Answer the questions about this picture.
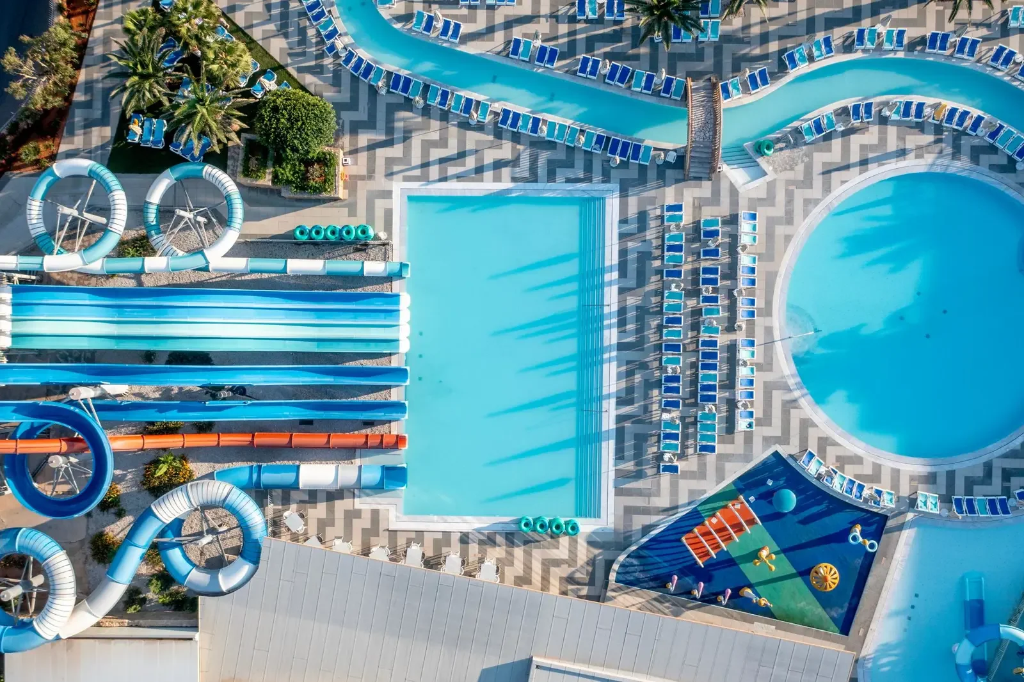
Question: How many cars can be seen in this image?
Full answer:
The picture shows no cars.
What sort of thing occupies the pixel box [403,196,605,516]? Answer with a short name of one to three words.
swimming pool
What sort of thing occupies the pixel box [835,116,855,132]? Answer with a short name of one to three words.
umbrella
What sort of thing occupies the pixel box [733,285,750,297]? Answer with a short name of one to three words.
umbrella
